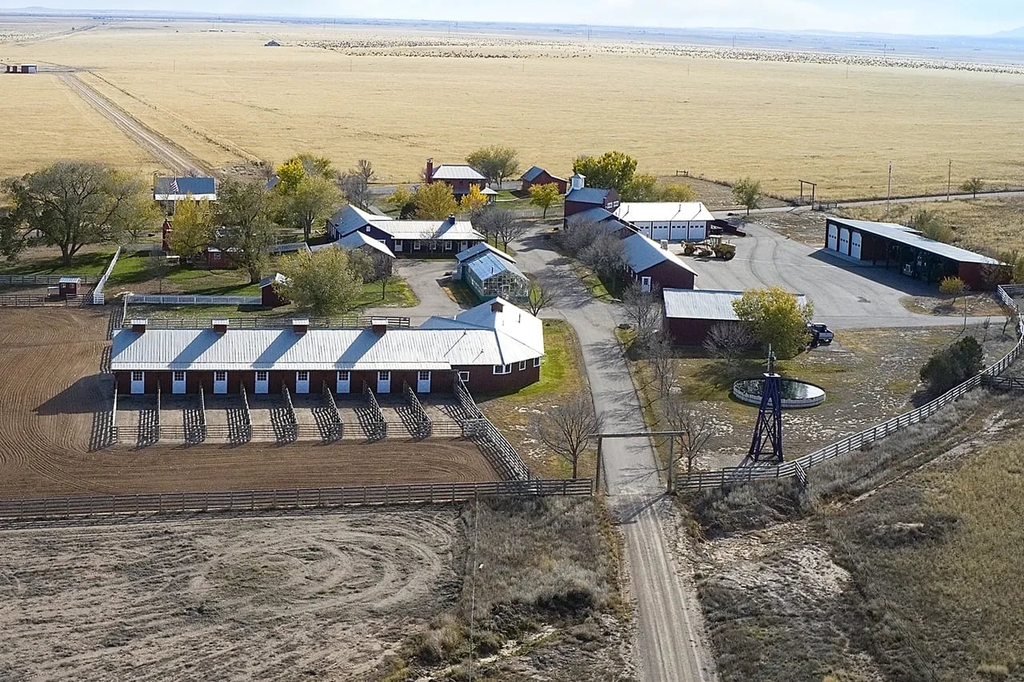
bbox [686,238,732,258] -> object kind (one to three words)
work vehicle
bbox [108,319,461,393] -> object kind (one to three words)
barn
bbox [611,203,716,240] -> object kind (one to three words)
building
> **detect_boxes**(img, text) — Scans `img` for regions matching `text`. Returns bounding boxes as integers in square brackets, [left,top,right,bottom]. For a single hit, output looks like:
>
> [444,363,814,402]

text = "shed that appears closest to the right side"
[813,220,1013,292]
